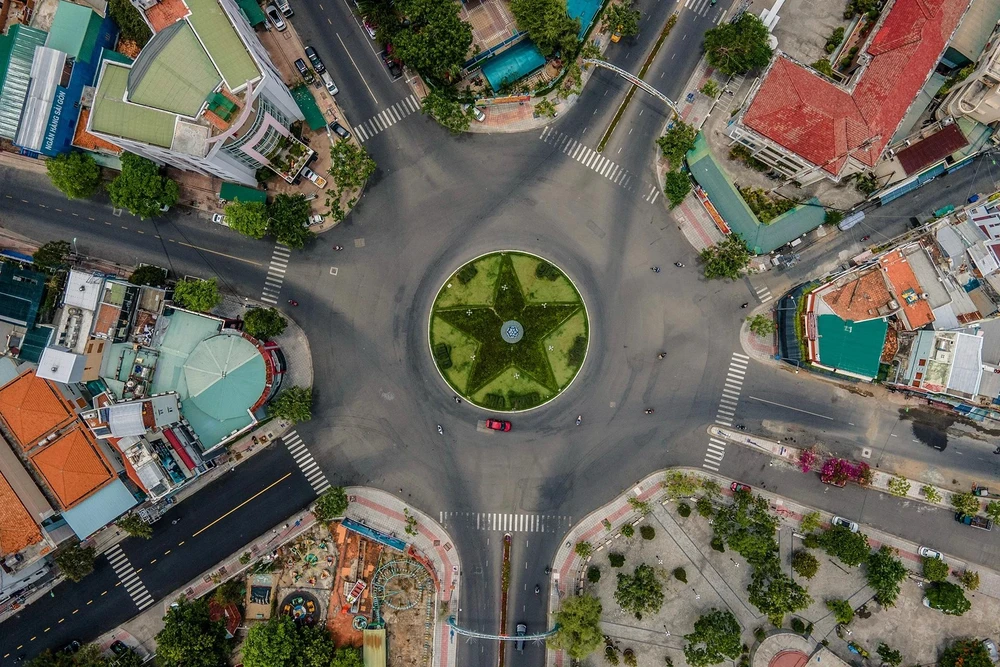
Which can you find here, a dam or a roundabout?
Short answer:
roundabout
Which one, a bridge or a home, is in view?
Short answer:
home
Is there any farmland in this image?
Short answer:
No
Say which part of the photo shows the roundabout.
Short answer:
center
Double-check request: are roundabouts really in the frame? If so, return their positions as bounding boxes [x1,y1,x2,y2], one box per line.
[429,251,591,412]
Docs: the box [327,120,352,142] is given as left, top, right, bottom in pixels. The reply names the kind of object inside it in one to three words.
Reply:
car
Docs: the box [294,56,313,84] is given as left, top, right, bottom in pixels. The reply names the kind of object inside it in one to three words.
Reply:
car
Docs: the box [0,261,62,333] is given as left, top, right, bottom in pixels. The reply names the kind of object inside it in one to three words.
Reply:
building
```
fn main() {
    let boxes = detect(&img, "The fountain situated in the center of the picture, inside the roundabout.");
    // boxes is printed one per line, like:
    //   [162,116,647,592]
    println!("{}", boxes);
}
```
[500,319,523,343]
